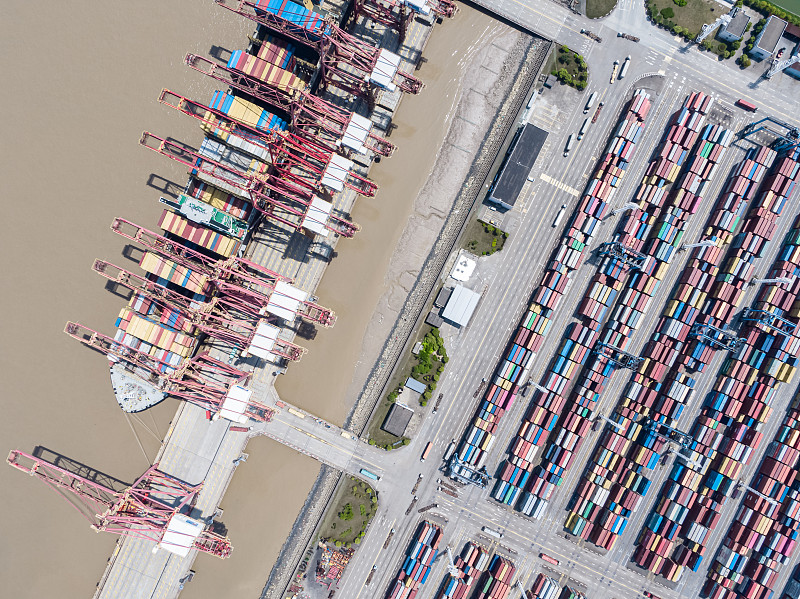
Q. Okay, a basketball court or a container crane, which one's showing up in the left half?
container crane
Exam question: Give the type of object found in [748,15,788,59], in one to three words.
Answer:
building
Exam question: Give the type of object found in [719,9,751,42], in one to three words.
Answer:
building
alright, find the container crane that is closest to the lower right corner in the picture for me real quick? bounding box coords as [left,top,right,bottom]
[641,414,696,451]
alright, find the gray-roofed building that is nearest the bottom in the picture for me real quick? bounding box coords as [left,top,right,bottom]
[385,401,414,436]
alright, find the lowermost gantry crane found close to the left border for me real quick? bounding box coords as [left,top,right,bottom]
[4,447,234,564]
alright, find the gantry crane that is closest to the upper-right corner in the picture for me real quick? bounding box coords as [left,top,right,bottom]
[741,114,800,152]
